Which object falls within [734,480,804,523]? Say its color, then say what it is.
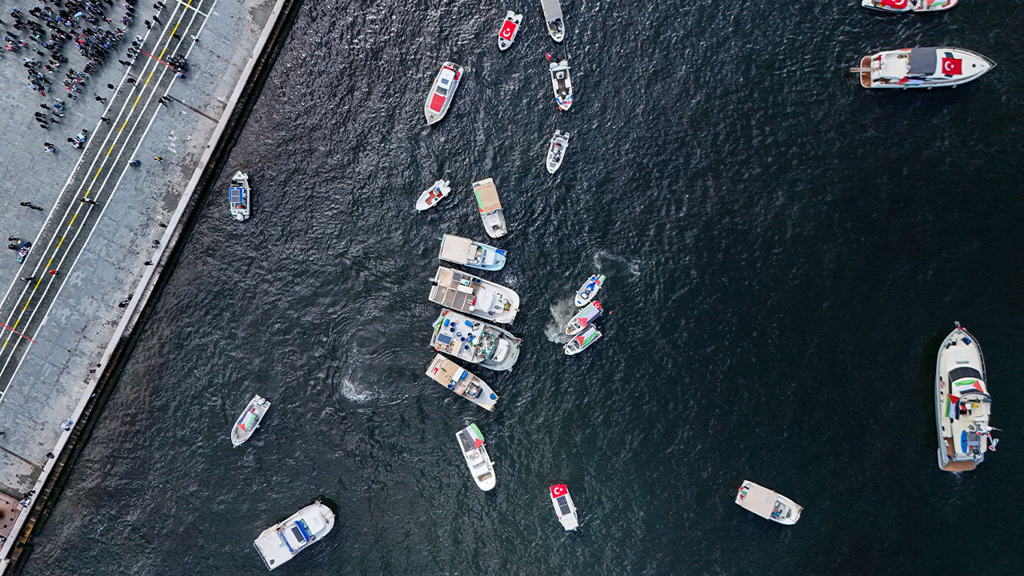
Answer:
white boat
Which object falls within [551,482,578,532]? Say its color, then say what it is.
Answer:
white boat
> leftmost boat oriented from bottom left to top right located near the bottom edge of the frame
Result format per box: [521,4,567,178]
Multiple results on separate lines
[253,501,336,569]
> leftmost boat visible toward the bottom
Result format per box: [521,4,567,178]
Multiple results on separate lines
[230,391,273,447]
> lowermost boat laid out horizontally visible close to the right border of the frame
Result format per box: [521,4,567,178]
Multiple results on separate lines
[845,47,1001,90]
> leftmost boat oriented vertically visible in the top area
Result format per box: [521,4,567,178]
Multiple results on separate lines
[230,168,252,222]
